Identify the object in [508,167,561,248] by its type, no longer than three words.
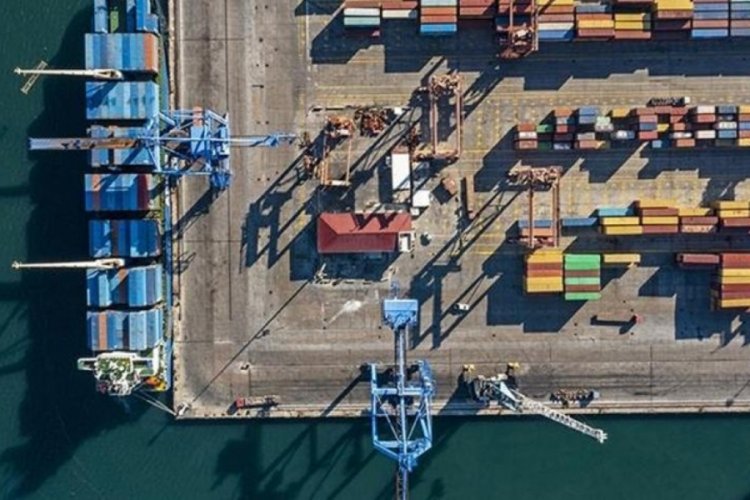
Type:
container crane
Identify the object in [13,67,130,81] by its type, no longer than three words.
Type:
crane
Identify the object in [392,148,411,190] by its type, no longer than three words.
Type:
shed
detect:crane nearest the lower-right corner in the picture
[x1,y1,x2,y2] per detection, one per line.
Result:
[464,364,611,441]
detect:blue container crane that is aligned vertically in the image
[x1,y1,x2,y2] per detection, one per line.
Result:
[364,279,442,500]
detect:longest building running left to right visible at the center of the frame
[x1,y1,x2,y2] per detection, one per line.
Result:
[318,213,412,253]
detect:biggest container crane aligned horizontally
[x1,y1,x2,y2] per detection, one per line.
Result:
[35,102,297,190]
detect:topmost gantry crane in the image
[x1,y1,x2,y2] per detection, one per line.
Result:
[491,0,540,70]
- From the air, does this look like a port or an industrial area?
port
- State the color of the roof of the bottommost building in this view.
red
